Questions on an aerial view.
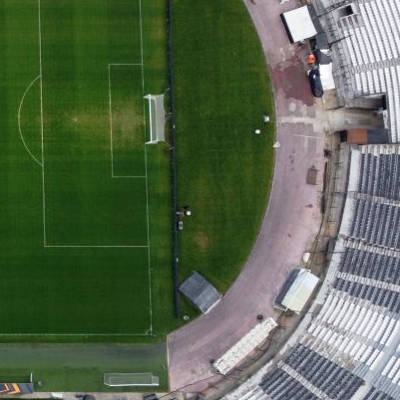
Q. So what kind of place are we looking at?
sports ground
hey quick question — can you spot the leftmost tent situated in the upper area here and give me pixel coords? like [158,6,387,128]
[273,6,316,45]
